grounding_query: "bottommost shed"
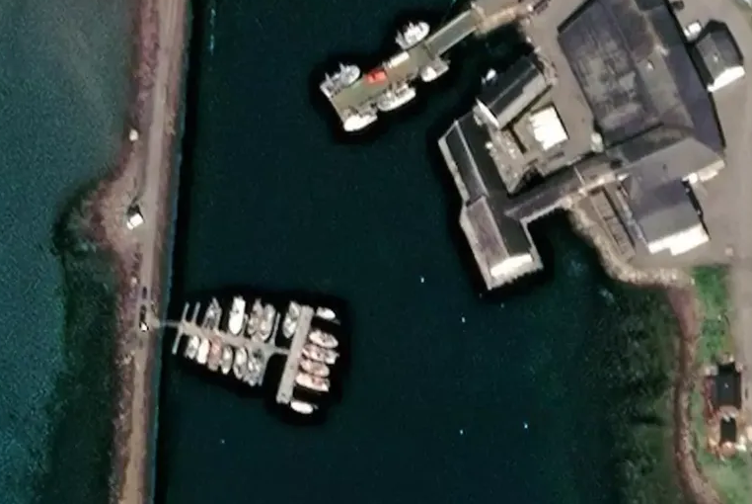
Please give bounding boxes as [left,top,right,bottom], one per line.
[722,418,736,446]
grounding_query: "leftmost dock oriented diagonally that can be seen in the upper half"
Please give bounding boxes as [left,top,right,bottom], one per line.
[326,35,440,127]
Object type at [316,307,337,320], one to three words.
boat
